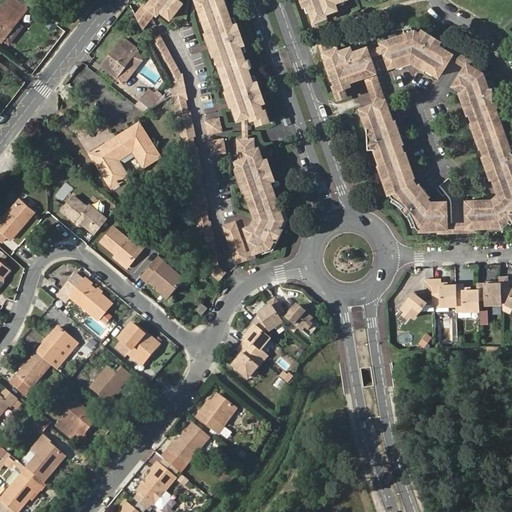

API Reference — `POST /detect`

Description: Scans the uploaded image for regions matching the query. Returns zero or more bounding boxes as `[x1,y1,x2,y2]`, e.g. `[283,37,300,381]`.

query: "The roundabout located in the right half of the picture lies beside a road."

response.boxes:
[301,209,397,305]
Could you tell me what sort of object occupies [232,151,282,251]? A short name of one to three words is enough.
building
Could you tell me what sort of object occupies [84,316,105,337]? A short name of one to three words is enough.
swimming pool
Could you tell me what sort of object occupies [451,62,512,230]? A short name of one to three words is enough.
building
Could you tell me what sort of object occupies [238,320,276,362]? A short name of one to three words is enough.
house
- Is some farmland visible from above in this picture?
No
